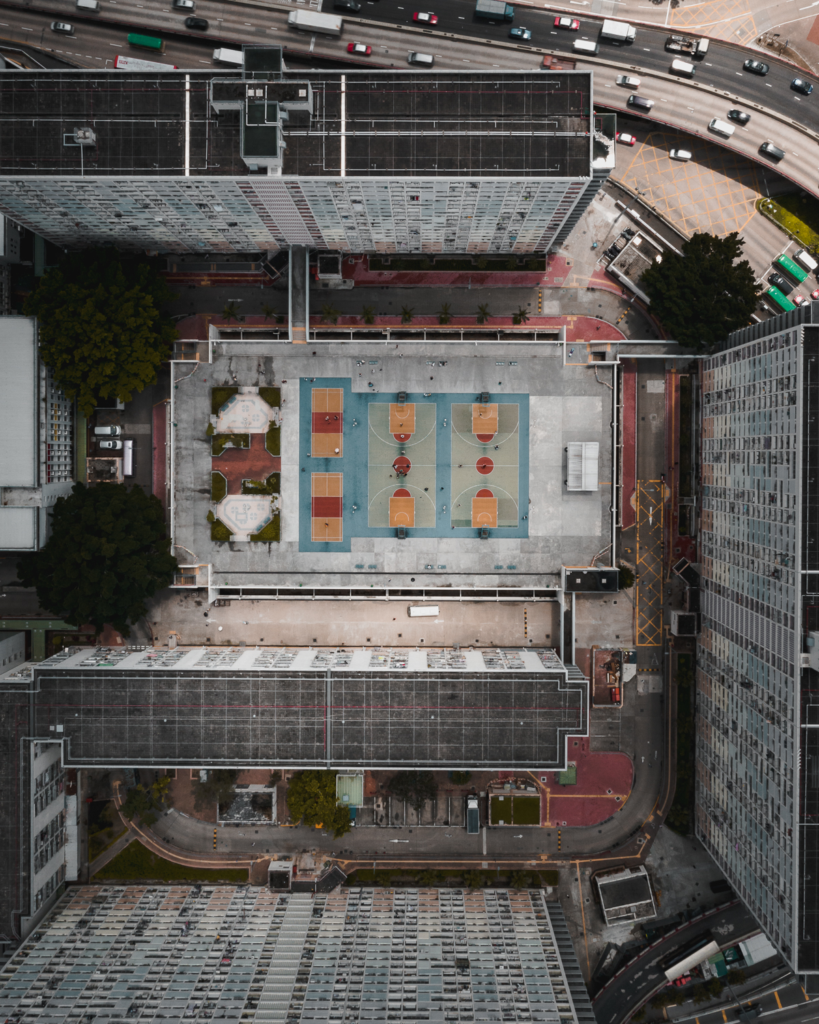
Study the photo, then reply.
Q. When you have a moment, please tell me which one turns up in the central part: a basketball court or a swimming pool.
basketball court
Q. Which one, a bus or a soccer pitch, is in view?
bus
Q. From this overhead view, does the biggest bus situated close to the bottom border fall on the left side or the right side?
right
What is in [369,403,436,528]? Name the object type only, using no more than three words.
basketball court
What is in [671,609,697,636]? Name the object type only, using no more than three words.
shed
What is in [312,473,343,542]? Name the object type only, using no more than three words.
sports court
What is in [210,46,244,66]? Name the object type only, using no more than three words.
vehicle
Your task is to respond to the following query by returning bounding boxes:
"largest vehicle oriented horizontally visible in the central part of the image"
[406,604,439,617]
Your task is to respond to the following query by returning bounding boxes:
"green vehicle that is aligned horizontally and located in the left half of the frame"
[128,34,164,53]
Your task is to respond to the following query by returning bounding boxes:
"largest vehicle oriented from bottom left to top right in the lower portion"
[659,933,718,981]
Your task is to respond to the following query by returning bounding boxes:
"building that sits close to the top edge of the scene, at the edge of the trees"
[0,46,614,252]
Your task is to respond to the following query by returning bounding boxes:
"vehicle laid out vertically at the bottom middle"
[467,795,480,837]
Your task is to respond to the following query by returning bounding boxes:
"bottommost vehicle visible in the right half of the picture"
[737,1002,761,1020]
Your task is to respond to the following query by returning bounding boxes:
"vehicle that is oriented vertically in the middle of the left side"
[122,437,136,478]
